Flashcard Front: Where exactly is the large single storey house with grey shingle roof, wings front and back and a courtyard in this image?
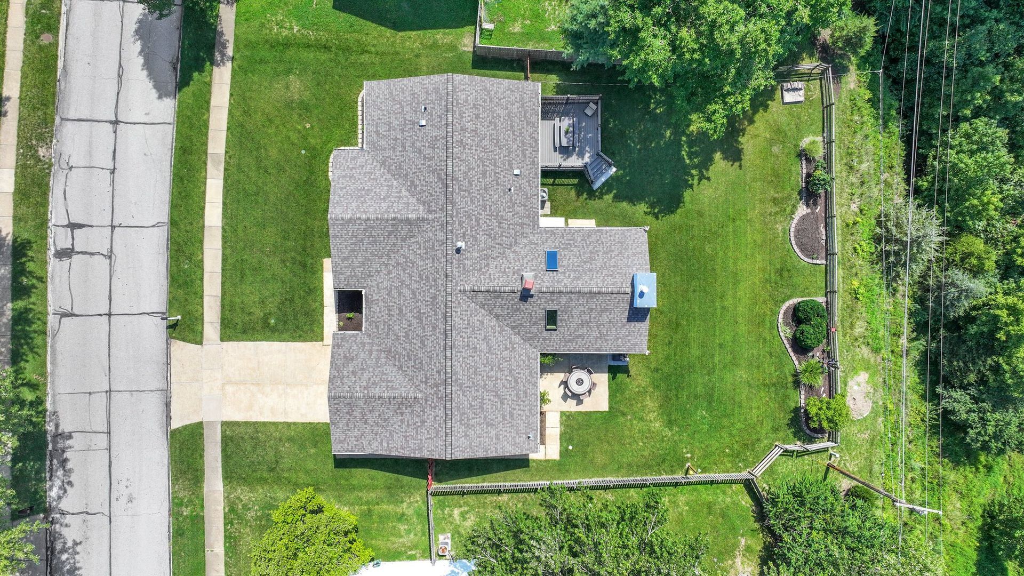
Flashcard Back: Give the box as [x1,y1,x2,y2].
[329,73,657,460]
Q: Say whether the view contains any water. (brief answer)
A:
No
